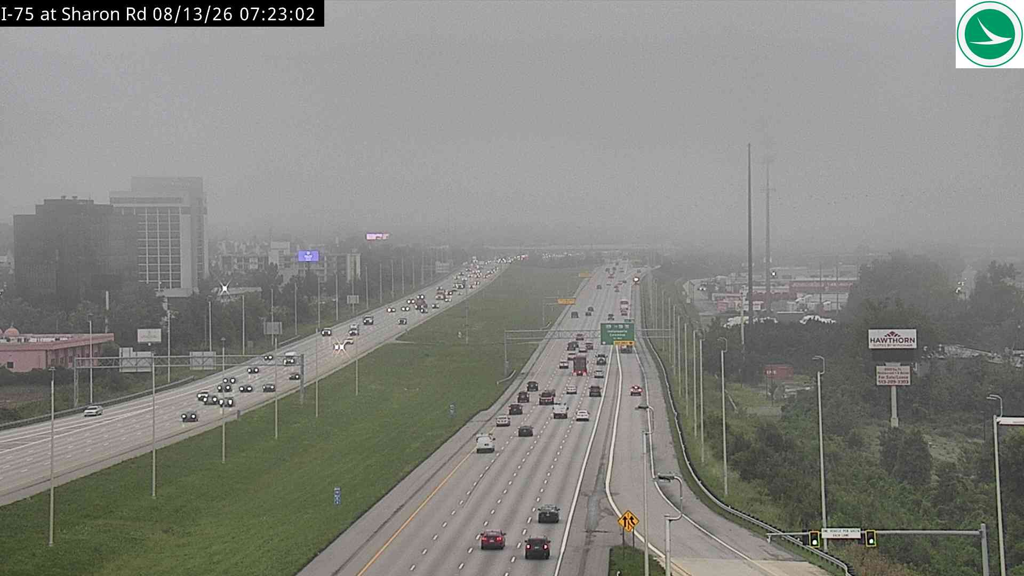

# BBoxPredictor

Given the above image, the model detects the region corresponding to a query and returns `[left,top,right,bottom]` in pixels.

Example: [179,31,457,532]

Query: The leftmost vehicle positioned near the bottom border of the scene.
[481,528,508,548]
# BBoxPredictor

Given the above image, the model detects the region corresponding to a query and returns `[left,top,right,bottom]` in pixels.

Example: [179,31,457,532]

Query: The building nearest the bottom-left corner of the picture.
[0,326,117,373]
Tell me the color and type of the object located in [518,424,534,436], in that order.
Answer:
gray vehicle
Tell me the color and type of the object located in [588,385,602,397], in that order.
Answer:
gray vehicle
